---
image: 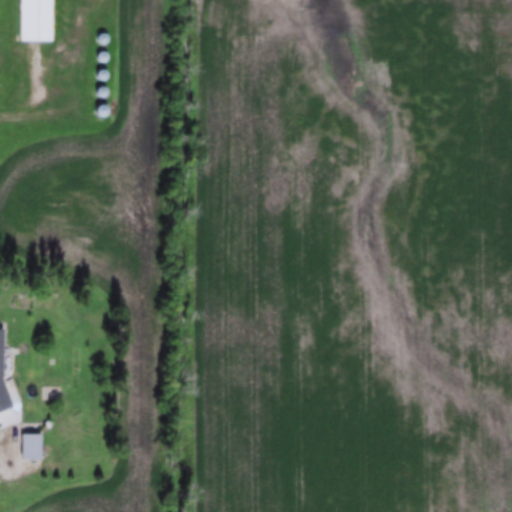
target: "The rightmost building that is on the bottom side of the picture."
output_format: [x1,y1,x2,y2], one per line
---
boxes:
[22,432,44,460]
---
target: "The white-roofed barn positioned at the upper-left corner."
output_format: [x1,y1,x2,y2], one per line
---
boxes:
[20,0,54,42]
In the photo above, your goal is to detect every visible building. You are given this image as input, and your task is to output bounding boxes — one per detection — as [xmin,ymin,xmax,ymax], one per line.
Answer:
[0,332,12,410]
[22,432,44,460]
[20,0,54,42]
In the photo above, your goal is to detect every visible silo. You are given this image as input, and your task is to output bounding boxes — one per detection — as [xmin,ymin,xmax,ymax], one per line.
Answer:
[95,86,110,100]
[96,50,110,64]
[96,32,110,47]
[96,104,110,118]
[95,68,110,82]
